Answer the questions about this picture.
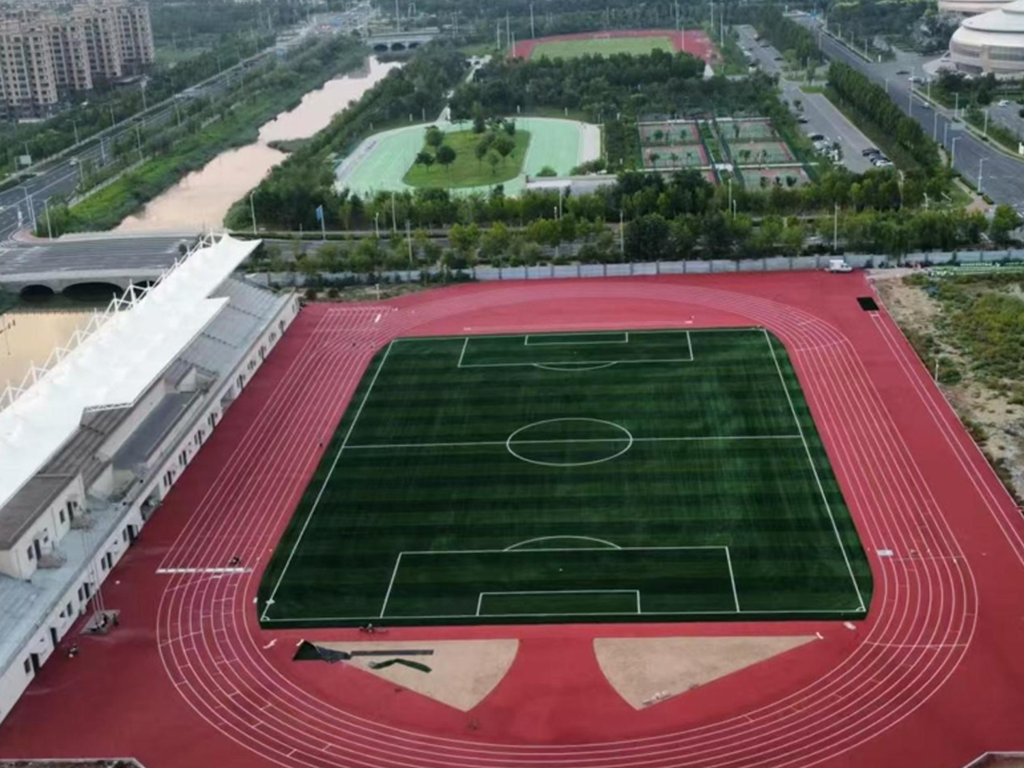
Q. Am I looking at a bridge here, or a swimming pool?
bridge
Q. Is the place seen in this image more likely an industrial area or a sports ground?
sports ground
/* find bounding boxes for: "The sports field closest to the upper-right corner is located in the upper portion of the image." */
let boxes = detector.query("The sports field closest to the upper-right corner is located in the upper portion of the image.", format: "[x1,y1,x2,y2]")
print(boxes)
[527,36,675,66]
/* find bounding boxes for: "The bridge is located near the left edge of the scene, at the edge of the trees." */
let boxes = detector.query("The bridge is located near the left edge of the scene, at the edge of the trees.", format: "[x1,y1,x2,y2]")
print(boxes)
[0,225,293,298]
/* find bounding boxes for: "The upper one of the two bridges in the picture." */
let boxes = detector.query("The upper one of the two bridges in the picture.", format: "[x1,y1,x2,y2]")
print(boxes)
[358,30,450,55]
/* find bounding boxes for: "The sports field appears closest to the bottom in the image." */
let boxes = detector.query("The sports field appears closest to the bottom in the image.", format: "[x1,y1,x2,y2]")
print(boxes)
[256,327,873,628]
